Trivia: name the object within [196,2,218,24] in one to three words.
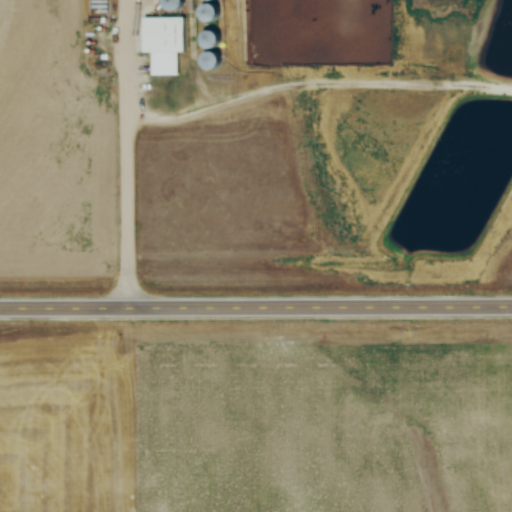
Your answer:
silo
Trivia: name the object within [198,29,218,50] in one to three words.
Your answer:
silo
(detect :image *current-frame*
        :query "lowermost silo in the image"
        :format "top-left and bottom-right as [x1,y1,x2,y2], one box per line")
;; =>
[198,50,219,72]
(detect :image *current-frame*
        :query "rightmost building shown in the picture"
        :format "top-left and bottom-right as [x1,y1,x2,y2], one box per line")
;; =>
[141,16,185,76]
